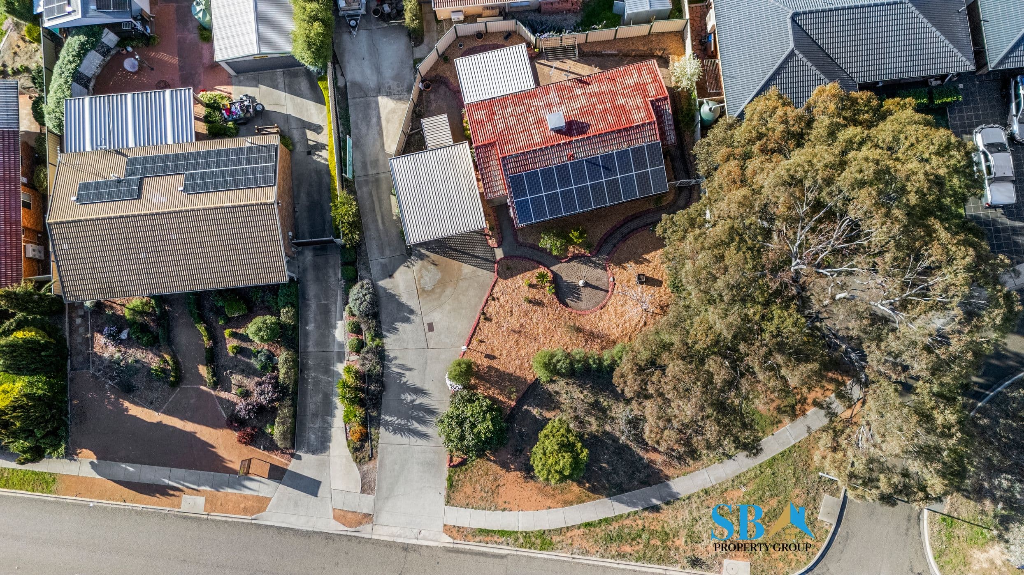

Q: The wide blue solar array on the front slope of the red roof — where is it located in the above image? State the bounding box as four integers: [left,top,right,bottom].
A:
[509,144,667,225]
